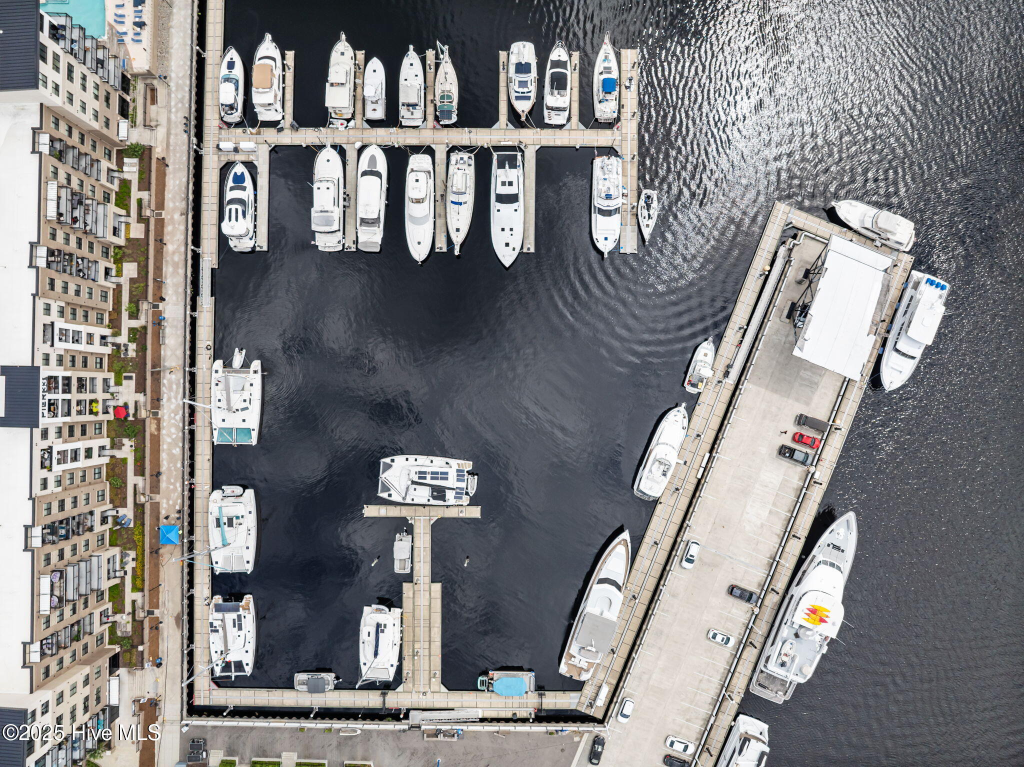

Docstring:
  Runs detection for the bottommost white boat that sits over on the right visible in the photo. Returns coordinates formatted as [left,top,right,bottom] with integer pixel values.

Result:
[716,712,770,767]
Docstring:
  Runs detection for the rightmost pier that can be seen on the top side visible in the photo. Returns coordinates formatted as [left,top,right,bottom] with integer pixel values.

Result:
[789,211,914,266]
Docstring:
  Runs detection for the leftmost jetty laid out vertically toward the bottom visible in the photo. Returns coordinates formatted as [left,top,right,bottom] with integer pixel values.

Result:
[194,296,216,705]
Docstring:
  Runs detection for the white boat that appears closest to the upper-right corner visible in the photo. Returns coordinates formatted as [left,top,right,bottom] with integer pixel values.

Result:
[833,197,916,251]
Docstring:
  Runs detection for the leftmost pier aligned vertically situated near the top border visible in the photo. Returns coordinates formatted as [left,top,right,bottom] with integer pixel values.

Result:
[200,0,226,269]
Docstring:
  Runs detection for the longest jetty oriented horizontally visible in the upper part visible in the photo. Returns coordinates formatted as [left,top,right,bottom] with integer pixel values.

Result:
[219,119,621,154]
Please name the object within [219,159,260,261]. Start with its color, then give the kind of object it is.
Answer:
white boat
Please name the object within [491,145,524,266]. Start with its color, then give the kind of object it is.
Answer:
white boat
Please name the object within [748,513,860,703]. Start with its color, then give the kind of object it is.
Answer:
white vessel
